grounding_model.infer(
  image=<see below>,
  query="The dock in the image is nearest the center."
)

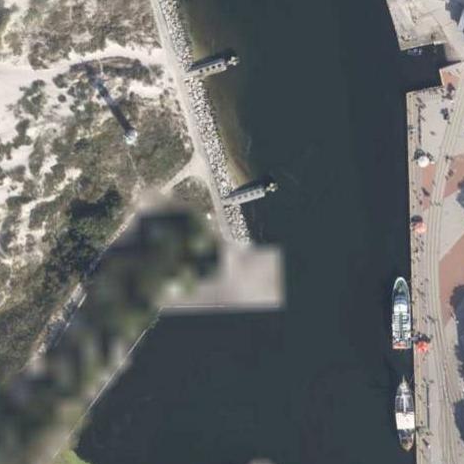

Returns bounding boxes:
[223,188,267,208]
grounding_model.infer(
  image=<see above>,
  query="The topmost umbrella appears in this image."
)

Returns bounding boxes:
[416,154,431,169]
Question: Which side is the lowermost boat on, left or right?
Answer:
right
